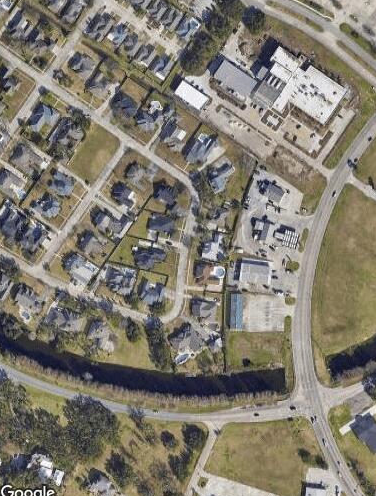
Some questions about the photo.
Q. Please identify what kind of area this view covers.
residential area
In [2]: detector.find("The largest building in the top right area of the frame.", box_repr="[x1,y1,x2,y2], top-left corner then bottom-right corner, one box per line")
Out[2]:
[272,65,346,125]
